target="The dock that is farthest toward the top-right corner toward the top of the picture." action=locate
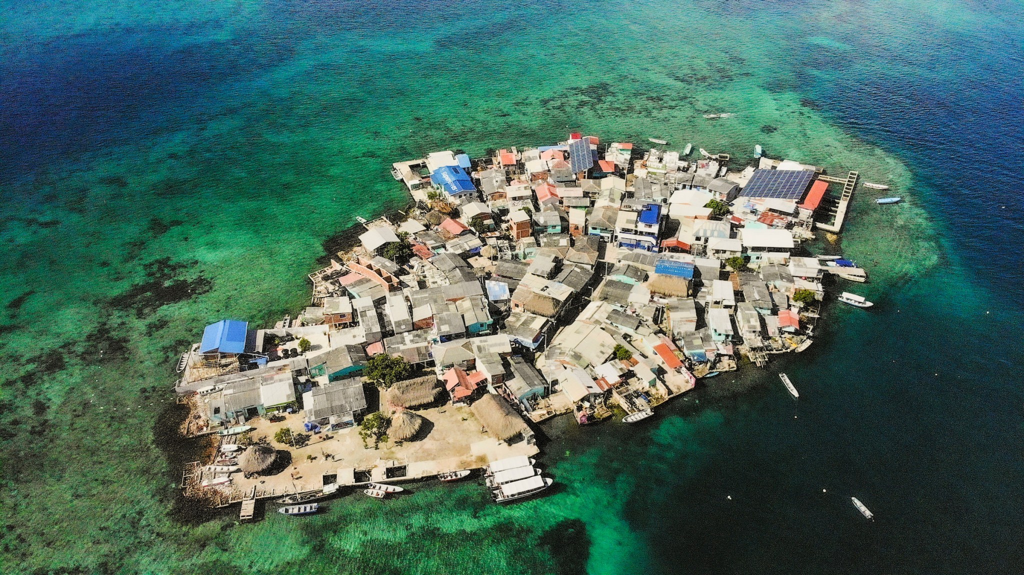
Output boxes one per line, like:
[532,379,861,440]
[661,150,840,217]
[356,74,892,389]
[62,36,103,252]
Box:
[815,170,858,233]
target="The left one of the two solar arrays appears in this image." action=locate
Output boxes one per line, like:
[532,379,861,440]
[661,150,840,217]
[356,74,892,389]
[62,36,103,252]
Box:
[569,137,593,186]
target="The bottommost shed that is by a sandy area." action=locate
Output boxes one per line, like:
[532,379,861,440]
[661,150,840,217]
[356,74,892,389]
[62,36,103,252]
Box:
[235,444,278,478]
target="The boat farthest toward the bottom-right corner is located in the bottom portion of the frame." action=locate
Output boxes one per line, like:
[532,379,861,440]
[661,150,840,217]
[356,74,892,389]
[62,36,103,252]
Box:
[852,495,875,519]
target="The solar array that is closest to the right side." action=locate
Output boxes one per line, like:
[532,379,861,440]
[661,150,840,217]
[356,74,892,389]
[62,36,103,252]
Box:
[739,169,815,208]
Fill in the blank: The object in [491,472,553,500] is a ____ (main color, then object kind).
white boat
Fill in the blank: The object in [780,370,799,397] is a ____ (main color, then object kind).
white boat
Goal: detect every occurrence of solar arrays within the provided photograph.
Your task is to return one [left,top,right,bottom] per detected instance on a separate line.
[569,137,593,186]
[739,169,815,208]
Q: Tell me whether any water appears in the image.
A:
Yes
